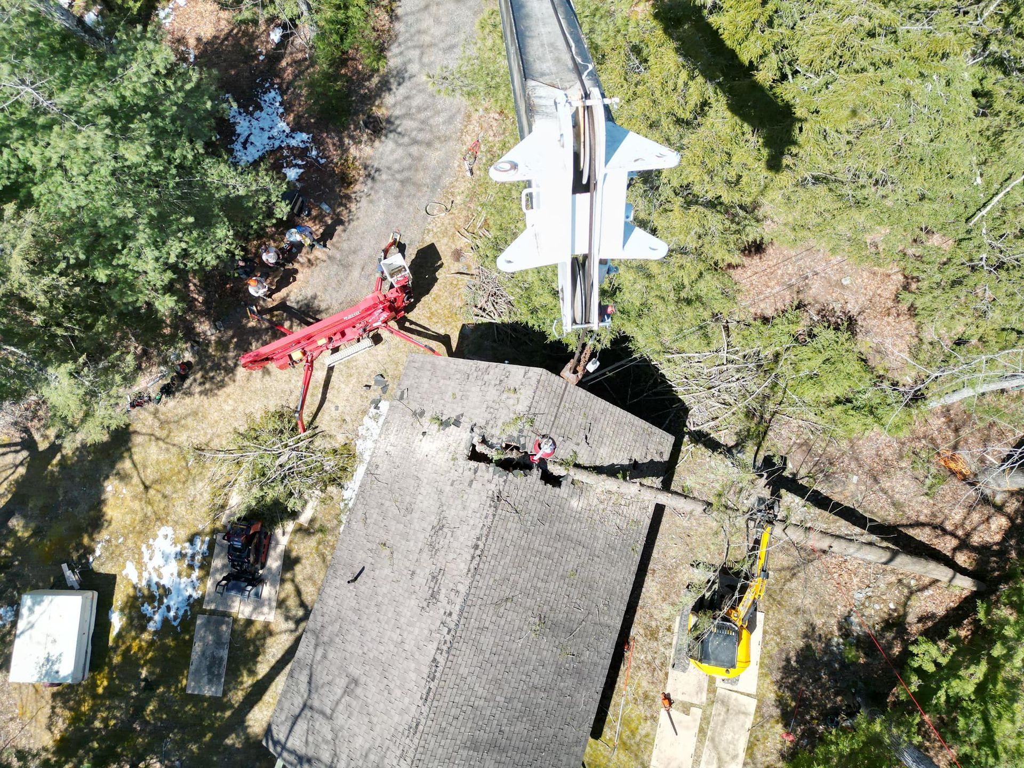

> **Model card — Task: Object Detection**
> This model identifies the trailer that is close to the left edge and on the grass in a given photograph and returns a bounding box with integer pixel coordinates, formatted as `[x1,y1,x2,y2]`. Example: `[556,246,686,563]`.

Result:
[9,554,100,683]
